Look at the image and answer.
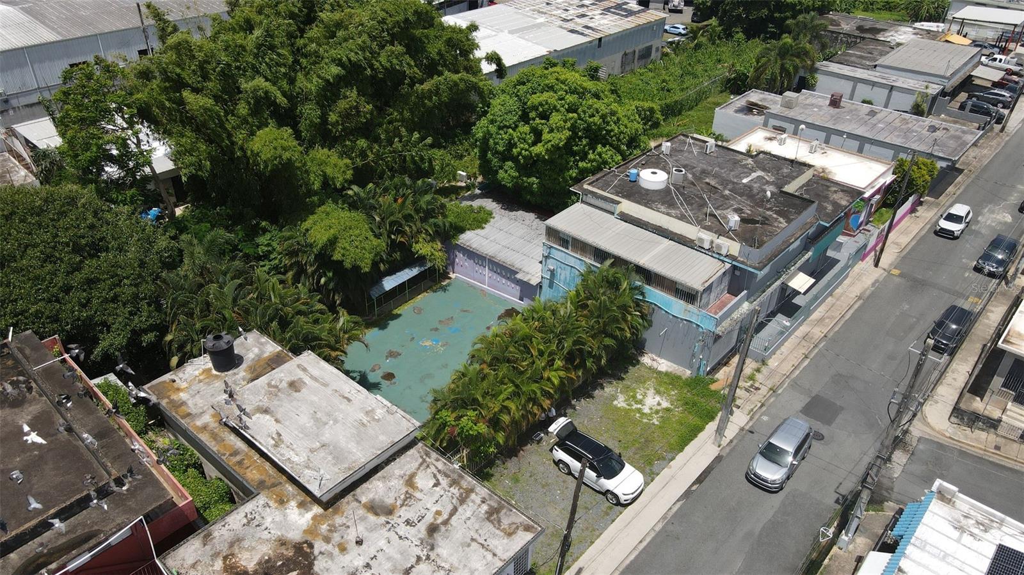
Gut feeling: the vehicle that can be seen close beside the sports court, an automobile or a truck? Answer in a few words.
automobile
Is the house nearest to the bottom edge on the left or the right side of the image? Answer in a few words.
right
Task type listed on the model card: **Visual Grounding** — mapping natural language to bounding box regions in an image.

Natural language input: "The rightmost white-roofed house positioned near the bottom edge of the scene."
[832,475,1024,575]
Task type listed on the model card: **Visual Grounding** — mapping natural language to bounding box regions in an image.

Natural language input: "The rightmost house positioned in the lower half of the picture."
[957,285,1024,447]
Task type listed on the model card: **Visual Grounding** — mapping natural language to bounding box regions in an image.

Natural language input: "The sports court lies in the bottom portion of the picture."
[304,270,614,430]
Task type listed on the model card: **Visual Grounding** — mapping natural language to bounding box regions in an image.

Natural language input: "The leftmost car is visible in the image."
[543,408,649,505]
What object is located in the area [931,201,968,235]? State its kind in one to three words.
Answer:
car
